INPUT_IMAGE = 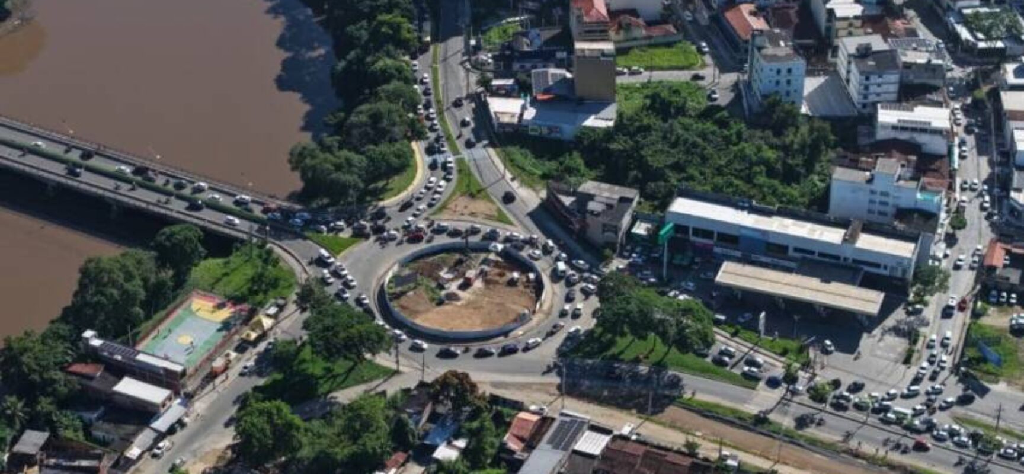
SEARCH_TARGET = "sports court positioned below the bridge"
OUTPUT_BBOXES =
[131,292,256,365]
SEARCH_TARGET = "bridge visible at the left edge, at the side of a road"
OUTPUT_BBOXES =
[0,114,304,239]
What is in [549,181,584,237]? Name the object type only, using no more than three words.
building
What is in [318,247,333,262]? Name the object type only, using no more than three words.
vehicle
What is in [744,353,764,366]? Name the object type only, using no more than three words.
vehicle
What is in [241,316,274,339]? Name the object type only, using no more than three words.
tent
